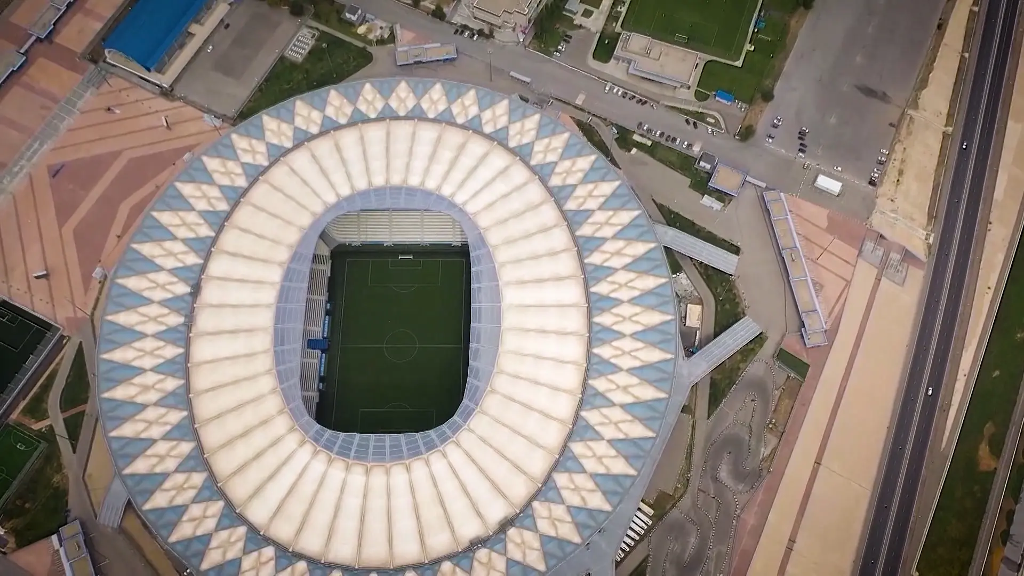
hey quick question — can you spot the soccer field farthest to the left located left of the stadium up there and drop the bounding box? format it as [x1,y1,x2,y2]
[0,296,62,417]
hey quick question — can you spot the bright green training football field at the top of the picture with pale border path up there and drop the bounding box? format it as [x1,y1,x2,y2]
[616,0,761,65]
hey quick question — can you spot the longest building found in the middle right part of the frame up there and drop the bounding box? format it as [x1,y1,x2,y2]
[761,190,828,351]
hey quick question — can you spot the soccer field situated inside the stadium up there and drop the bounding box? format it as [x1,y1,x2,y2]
[318,245,474,433]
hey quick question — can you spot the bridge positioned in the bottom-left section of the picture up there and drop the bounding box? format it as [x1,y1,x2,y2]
[96,472,129,528]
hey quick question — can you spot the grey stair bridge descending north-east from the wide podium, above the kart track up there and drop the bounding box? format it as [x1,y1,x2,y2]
[688,316,763,385]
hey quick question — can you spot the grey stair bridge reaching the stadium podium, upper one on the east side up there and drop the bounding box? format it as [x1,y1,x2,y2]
[653,222,740,275]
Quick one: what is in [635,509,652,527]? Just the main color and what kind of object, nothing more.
white vehicle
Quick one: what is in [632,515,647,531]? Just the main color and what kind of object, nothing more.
white vehicle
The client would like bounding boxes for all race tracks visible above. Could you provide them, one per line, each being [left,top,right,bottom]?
[647,358,777,576]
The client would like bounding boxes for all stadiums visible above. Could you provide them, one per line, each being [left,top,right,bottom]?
[95,79,692,576]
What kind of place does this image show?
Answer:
sports ground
